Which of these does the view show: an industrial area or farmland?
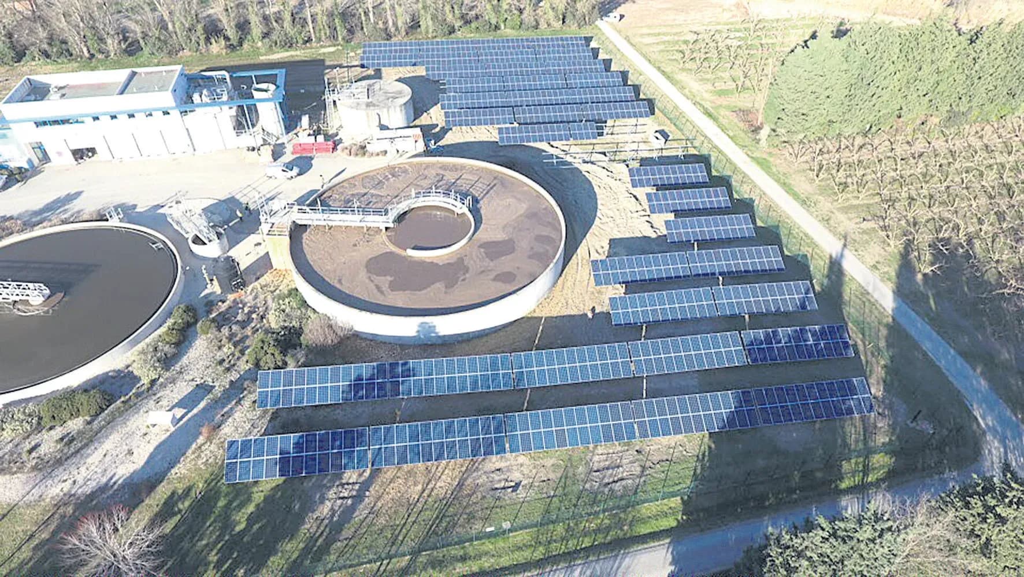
industrial area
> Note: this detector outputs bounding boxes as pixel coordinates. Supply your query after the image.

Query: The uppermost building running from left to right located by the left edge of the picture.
[0,66,291,171]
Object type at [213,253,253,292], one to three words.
storage tank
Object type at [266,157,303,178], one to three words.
vehicle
